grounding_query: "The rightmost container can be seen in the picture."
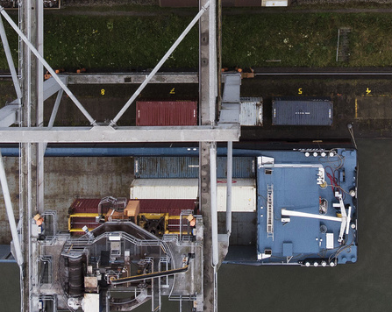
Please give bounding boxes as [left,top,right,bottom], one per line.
[272,96,333,125]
